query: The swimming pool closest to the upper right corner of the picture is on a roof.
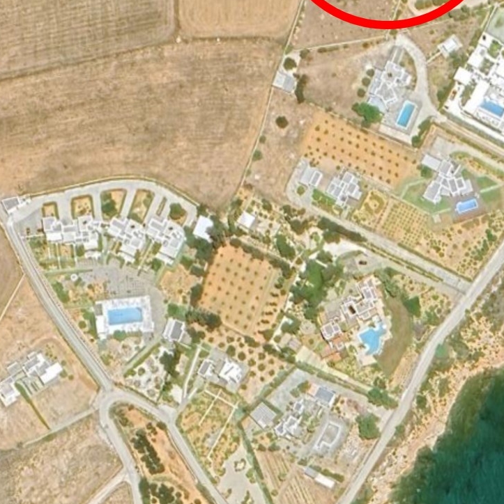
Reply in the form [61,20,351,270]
[480,98,504,119]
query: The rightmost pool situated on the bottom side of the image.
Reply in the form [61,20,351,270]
[357,321,387,356]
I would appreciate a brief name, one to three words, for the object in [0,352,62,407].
house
